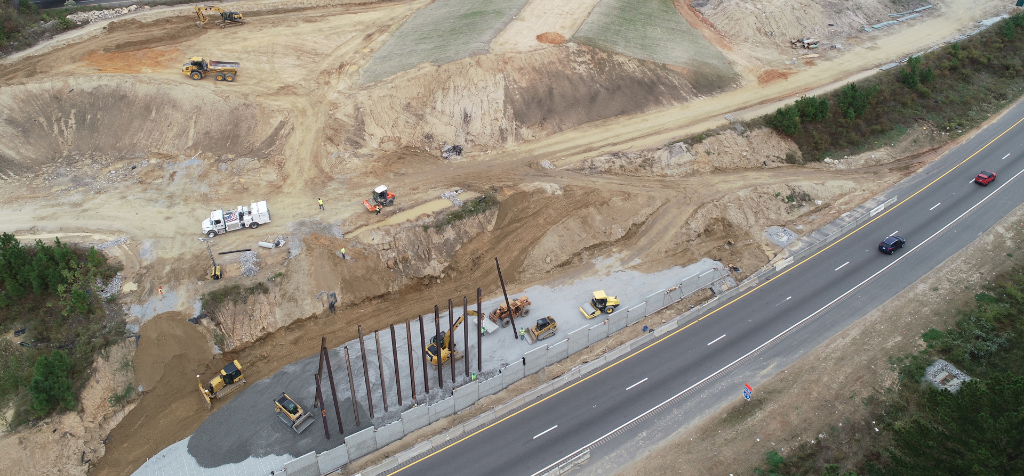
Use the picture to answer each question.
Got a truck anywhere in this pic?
Yes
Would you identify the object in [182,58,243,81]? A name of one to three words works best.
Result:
truck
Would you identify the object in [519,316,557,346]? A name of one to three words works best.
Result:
work vehicle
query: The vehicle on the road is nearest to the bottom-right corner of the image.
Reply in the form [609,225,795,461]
[879,237,907,255]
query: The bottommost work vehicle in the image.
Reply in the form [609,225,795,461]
[273,391,316,437]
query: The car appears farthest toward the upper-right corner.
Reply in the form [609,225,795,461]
[976,171,998,187]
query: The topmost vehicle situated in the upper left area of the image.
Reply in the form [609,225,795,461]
[193,3,243,26]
